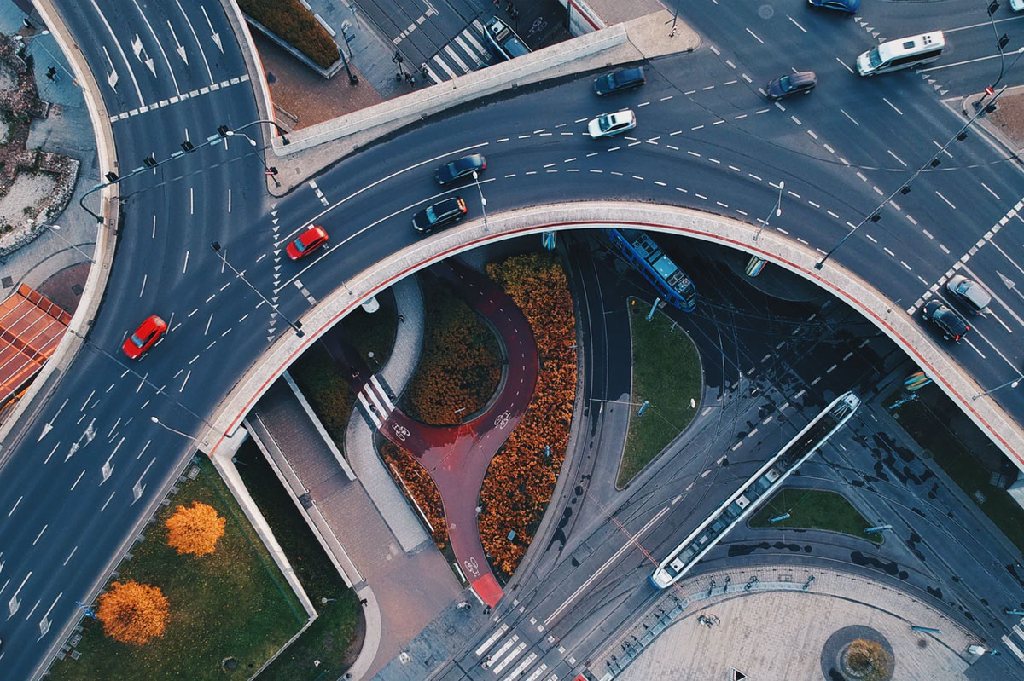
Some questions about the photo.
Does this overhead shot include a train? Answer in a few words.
Yes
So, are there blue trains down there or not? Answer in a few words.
Yes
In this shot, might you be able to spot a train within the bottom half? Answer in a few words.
Yes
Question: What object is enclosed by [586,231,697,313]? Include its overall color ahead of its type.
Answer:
blue train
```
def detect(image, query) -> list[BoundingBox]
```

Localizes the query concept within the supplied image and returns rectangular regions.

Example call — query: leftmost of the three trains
[484,14,534,62]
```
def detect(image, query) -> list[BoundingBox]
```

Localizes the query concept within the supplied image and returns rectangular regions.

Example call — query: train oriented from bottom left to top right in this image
[651,394,862,588]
